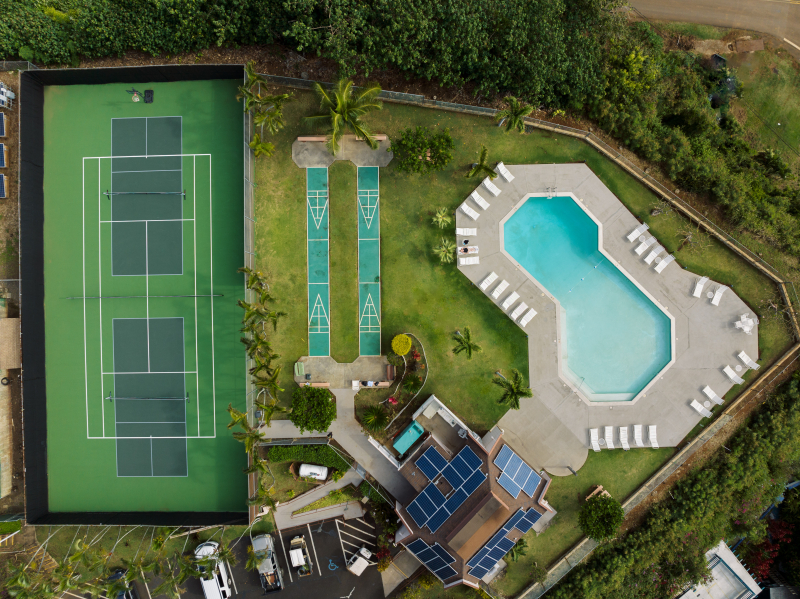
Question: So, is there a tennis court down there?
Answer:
Yes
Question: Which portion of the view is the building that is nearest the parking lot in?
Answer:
bottom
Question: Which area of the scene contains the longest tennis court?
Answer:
left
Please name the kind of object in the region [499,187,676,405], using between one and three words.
swimming pool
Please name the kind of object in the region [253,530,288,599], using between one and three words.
truck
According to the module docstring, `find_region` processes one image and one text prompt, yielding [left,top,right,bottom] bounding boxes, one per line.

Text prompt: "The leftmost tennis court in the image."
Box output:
[44,80,251,512]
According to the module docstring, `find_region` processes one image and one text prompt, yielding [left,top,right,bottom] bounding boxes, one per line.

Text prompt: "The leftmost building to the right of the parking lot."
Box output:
[394,423,555,592]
